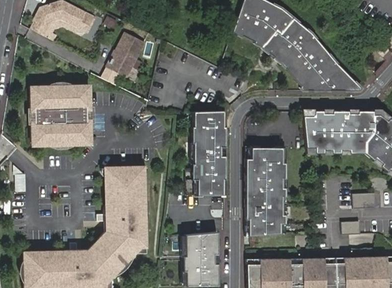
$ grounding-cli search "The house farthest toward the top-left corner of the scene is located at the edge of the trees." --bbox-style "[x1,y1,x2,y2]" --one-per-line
[32,0,96,40]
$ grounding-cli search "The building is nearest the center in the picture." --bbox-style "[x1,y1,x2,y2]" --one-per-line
[192,112,228,196]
